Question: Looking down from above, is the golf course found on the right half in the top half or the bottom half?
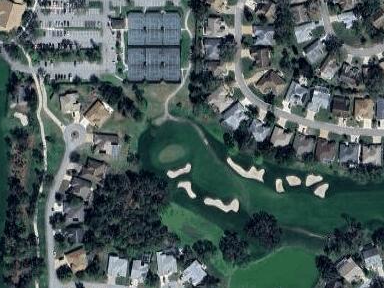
bottom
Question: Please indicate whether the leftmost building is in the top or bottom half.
top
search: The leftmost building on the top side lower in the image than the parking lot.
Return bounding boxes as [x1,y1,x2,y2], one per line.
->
[59,91,80,112]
